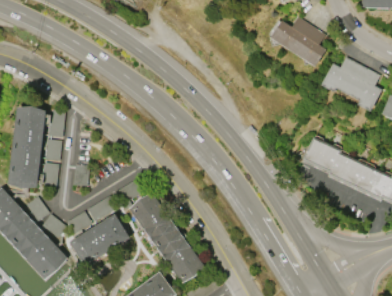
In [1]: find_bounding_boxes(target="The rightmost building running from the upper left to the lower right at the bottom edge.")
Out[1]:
[130,196,203,282]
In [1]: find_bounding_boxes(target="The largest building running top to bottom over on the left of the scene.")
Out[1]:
[8,107,46,188]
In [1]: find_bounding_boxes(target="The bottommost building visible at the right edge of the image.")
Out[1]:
[304,138,392,204]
